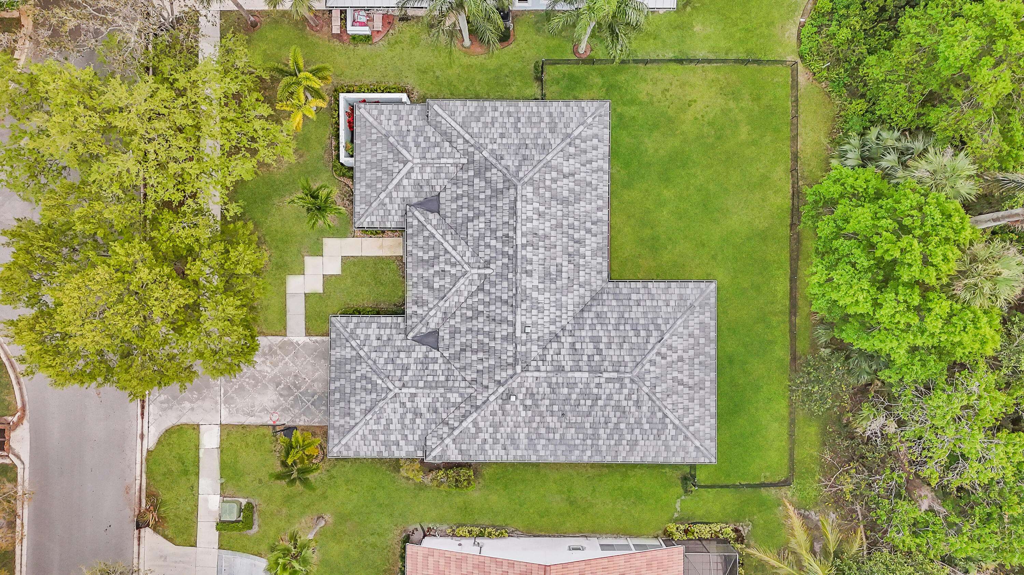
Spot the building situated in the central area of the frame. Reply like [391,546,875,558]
[329,100,716,464]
